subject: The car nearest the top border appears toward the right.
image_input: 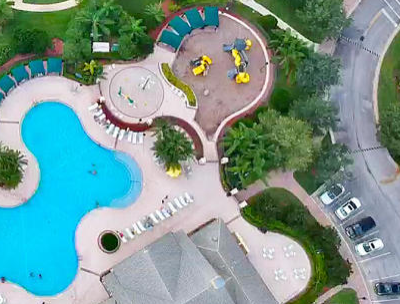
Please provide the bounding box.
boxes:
[320,181,348,205]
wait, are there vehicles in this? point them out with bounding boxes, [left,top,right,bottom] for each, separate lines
[336,195,363,219]
[347,214,381,241]
[377,281,400,295]
[357,237,388,258]
[320,181,348,205]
